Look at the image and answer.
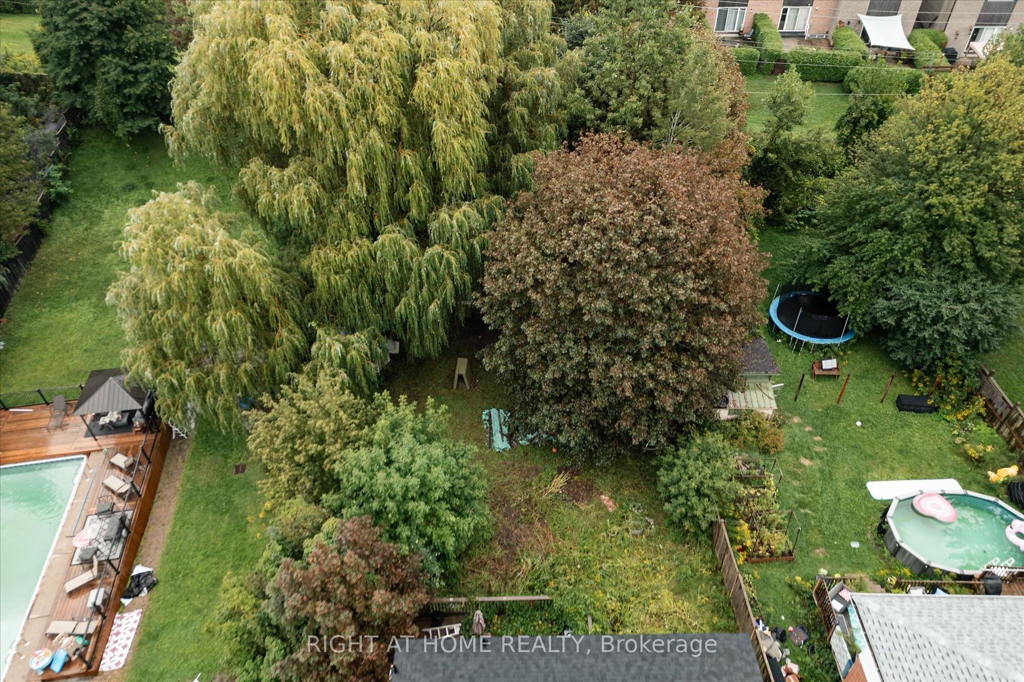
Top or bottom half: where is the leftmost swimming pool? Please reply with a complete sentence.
It is in the bottom half that the leftmost swimming pool appears.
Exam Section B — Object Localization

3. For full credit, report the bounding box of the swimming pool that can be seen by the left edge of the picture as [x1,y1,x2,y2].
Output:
[0,453,89,682]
